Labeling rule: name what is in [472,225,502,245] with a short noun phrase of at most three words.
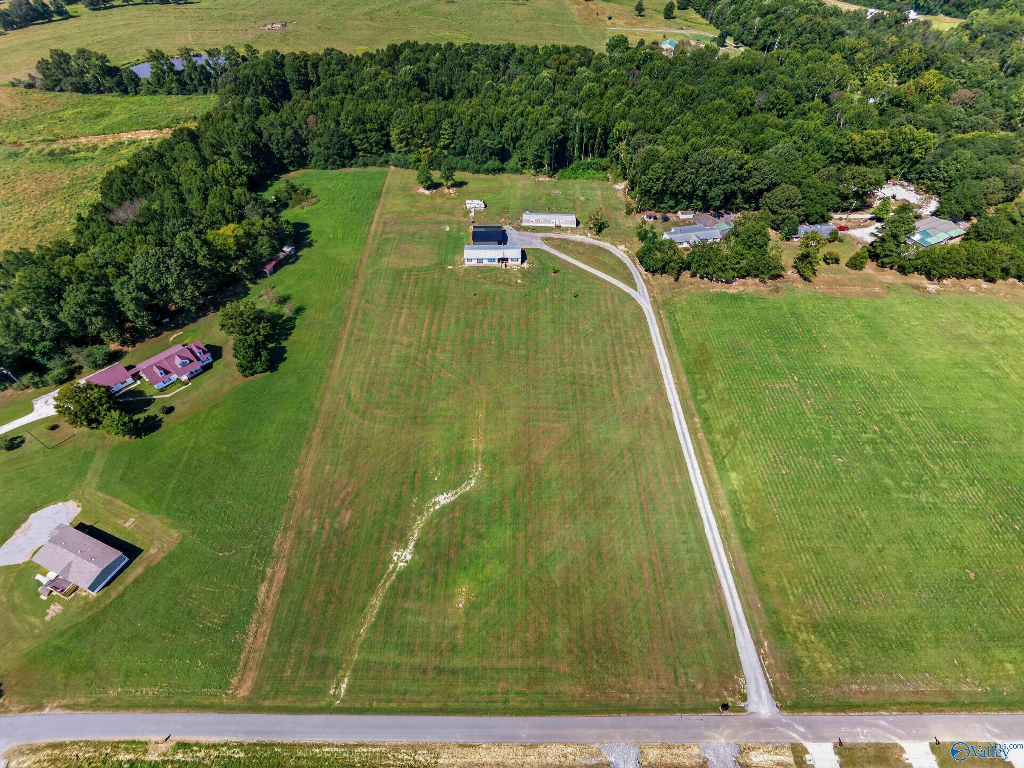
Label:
building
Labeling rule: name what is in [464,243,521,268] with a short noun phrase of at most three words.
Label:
house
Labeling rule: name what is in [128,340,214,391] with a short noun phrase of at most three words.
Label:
house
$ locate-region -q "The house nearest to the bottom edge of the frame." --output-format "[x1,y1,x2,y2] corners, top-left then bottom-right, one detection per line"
[31,524,127,601]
